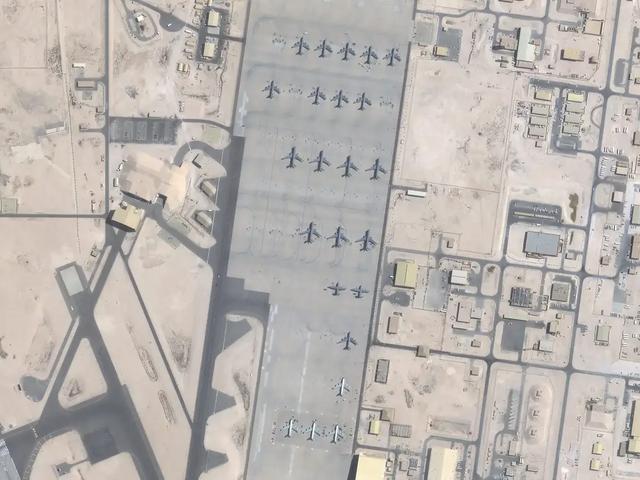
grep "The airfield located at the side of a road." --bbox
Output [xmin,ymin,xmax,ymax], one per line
[0,0,417,480]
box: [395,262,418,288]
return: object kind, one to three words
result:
hangar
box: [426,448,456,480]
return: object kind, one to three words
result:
hangar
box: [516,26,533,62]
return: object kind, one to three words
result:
building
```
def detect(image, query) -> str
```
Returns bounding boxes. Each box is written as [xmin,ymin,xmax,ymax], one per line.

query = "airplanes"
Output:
[338,42,355,60]
[326,425,344,443]
[303,422,321,441]
[308,86,325,104]
[360,46,378,64]
[382,48,401,66]
[291,36,309,55]
[262,81,279,99]
[314,39,332,57]
[332,378,349,396]
[282,147,302,168]
[337,156,358,177]
[365,158,386,180]
[351,285,369,298]
[328,282,346,296]
[338,332,356,350]
[309,151,330,172]
[331,89,348,108]
[328,227,348,248]
[356,230,376,251]
[300,222,321,243]
[281,419,299,438]
[353,92,371,111]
